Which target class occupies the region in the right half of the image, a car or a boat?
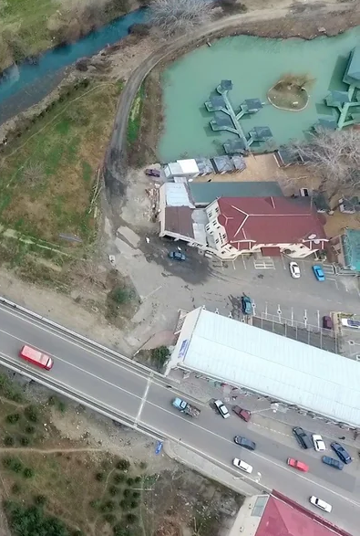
car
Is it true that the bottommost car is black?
No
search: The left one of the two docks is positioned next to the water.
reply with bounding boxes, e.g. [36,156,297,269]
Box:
[223,91,255,152]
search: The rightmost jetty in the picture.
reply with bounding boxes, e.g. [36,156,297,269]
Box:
[335,87,360,134]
